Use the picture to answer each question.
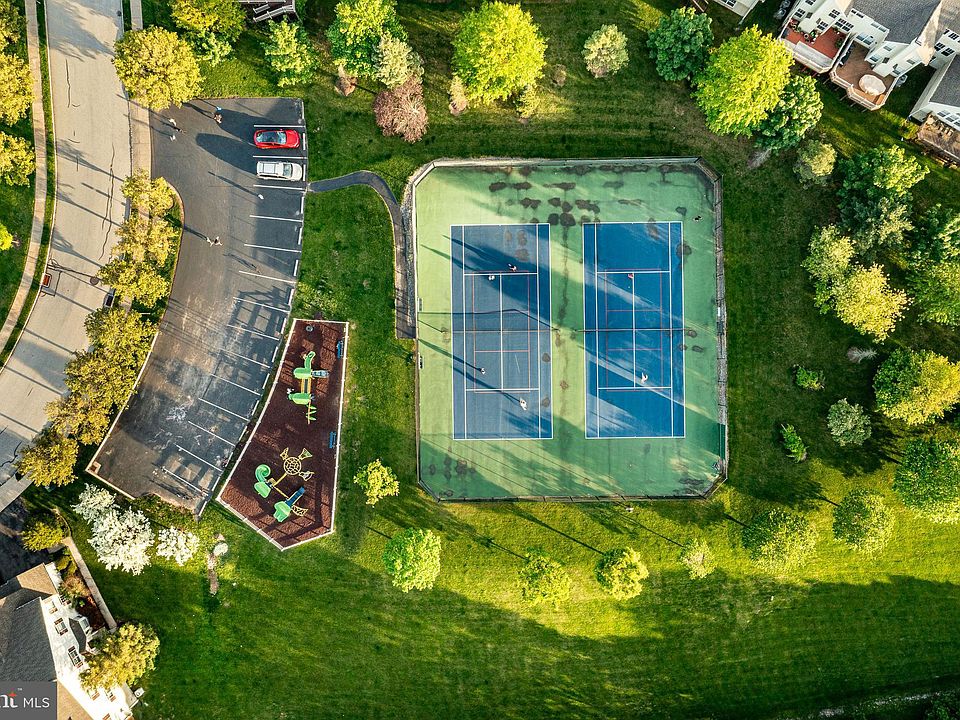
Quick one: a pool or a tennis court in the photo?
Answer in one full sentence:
The one in the frame is a tennis court.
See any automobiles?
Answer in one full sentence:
Yes, looking at the shot, I can spot an automobile.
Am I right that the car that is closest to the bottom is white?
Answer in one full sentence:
Yes, the car that is closest to the bottom is indeed white.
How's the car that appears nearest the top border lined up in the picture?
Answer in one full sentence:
The car that appears nearest the top border is laid out from side to side.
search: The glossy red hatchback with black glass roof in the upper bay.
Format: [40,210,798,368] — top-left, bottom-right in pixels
[255,128,300,149]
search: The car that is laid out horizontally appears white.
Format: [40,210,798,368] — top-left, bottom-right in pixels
[256,160,304,183]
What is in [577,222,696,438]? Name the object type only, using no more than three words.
tennis court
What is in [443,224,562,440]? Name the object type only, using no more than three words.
tennis court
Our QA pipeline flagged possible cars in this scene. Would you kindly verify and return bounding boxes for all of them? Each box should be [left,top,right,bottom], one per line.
[256,160,304,183]
[255,128,300,149]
